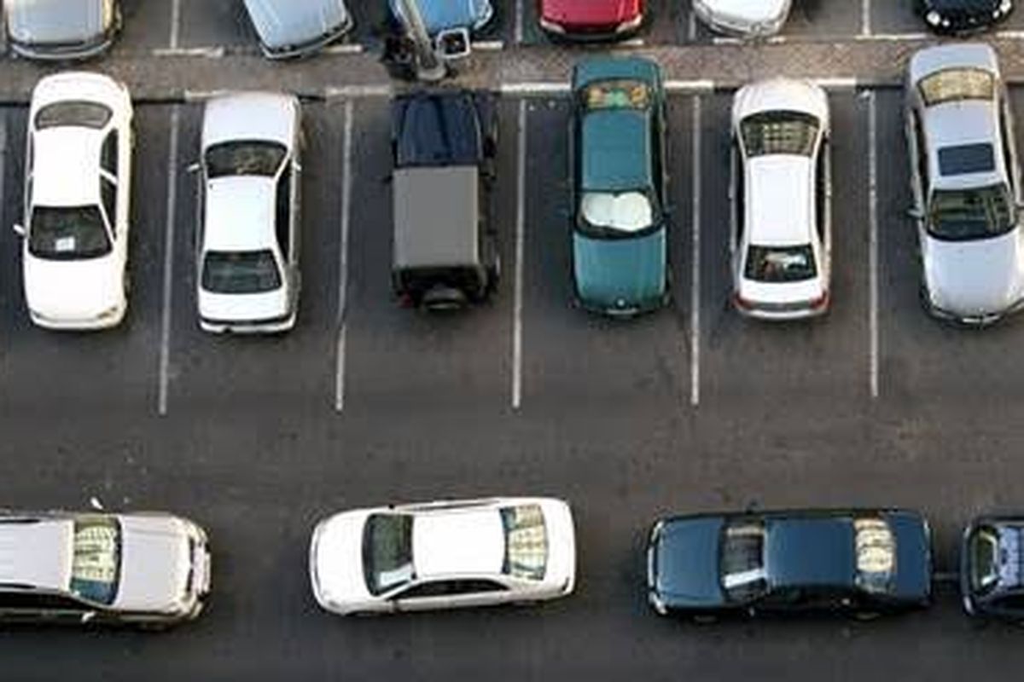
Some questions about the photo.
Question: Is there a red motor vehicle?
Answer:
Yes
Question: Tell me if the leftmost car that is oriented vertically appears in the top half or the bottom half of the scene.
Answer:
top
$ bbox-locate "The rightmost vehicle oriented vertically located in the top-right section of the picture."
[902,42,1024,330]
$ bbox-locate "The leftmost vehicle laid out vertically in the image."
[15,73,136,333]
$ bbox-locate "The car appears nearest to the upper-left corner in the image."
[10,0,118,62]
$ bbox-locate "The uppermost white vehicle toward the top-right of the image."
[698,0,795,45]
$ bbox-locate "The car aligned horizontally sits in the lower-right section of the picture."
[646,498,935,617]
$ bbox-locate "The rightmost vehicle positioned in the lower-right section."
[957,512,1024,620]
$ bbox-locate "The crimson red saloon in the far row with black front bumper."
[542,0,642,45]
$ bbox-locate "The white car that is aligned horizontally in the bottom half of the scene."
[309,494,577,615]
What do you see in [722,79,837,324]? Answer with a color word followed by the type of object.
white car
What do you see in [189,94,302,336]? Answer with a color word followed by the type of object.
white car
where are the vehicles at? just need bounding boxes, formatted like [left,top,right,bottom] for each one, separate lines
[902,42,1024,330]
[957,512,1024,620]
[422,0,495,42]
[914,0,1013,38]
[189,94,302,336]
[646,498,935,617]
[698,0,795,45]
[560,56,676,320]
[15,73,136,333]
[10,0,118,62]
[542,0,642,45]
[309,494,577,615]
[722,79,837,324]
[248,0,361,60]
